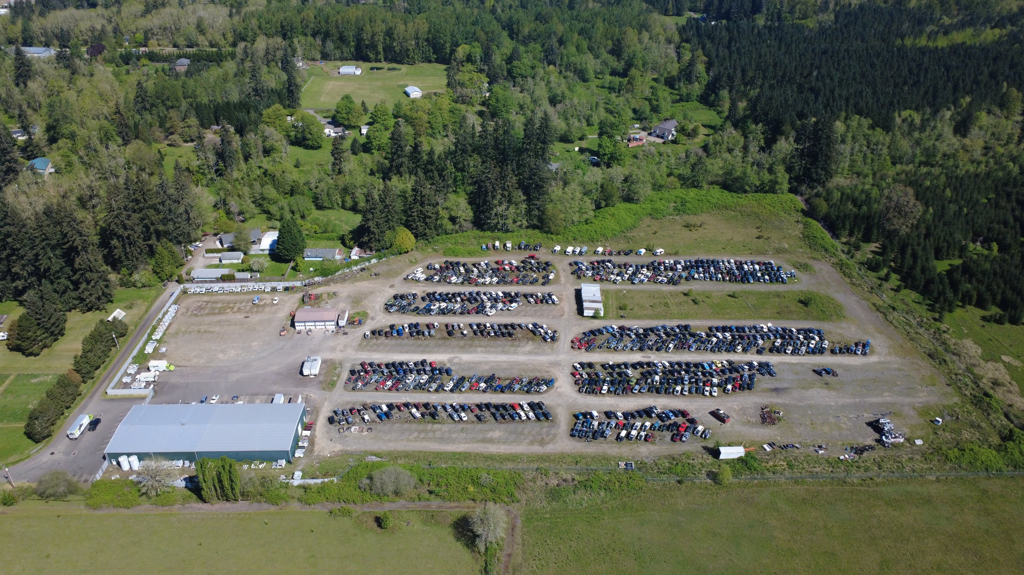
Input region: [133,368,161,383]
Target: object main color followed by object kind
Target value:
white vehicle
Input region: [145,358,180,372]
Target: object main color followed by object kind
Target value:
white vehicle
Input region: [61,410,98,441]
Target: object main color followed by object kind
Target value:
white truck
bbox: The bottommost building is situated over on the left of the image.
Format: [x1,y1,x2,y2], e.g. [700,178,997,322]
[104,403,308,466]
